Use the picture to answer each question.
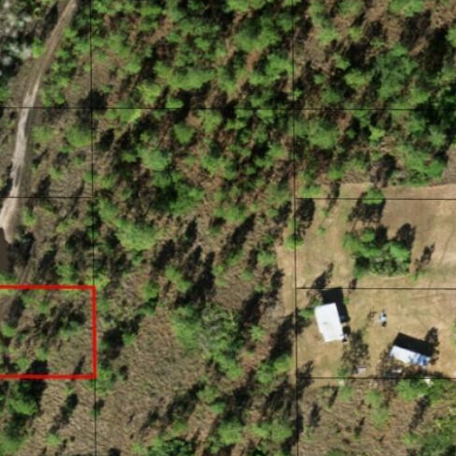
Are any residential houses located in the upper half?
No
